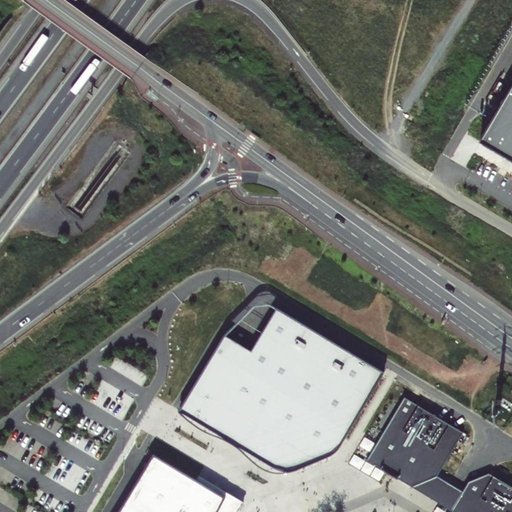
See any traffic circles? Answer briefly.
No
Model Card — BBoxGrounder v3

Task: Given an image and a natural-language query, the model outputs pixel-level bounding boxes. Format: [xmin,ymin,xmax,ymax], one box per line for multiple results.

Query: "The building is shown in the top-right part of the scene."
[481,86,512,162]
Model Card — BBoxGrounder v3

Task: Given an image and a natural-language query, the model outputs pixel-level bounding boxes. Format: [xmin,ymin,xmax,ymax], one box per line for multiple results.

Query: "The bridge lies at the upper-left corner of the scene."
[21,0,151,84]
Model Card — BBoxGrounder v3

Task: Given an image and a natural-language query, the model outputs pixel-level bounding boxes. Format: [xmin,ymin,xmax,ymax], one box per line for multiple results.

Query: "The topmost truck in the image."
[20,32,50,70]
